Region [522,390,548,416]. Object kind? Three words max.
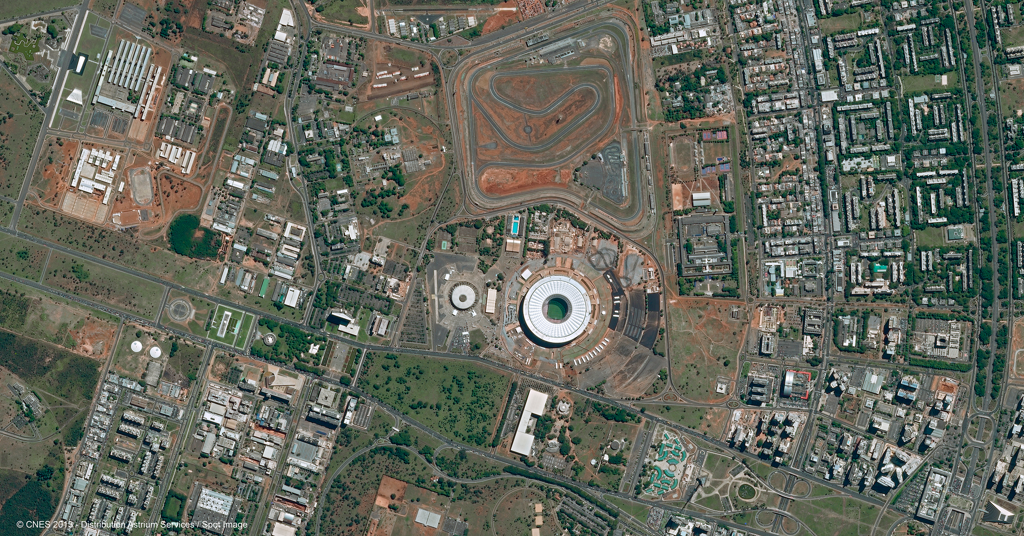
building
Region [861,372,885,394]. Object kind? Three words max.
building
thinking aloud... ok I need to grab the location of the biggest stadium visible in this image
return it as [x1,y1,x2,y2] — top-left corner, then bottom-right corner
[516,268,598,350]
